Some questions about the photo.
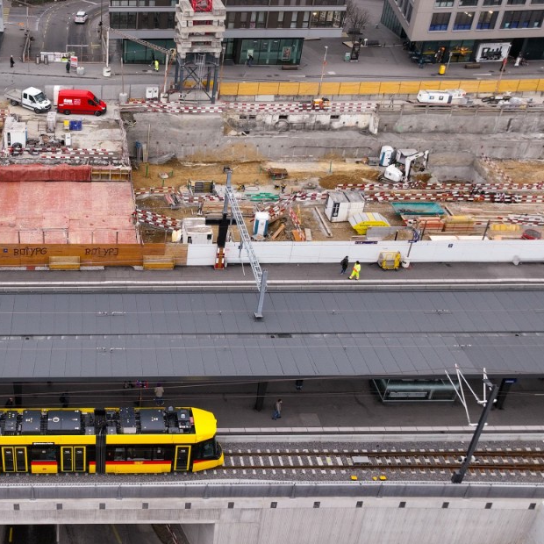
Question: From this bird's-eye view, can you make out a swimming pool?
No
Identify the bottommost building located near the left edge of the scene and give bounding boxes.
[2,120,30,149]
